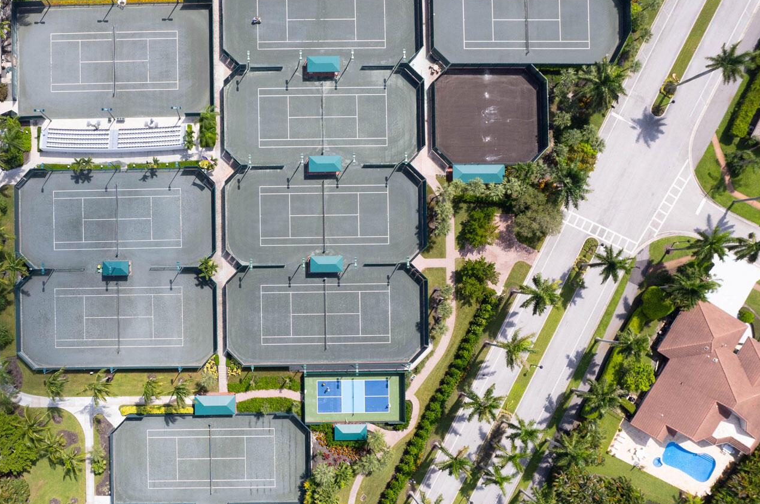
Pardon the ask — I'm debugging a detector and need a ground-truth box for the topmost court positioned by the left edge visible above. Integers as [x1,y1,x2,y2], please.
[18,3,214,120]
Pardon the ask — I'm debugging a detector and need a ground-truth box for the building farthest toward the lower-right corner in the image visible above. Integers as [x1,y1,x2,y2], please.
[630,301,760,455]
